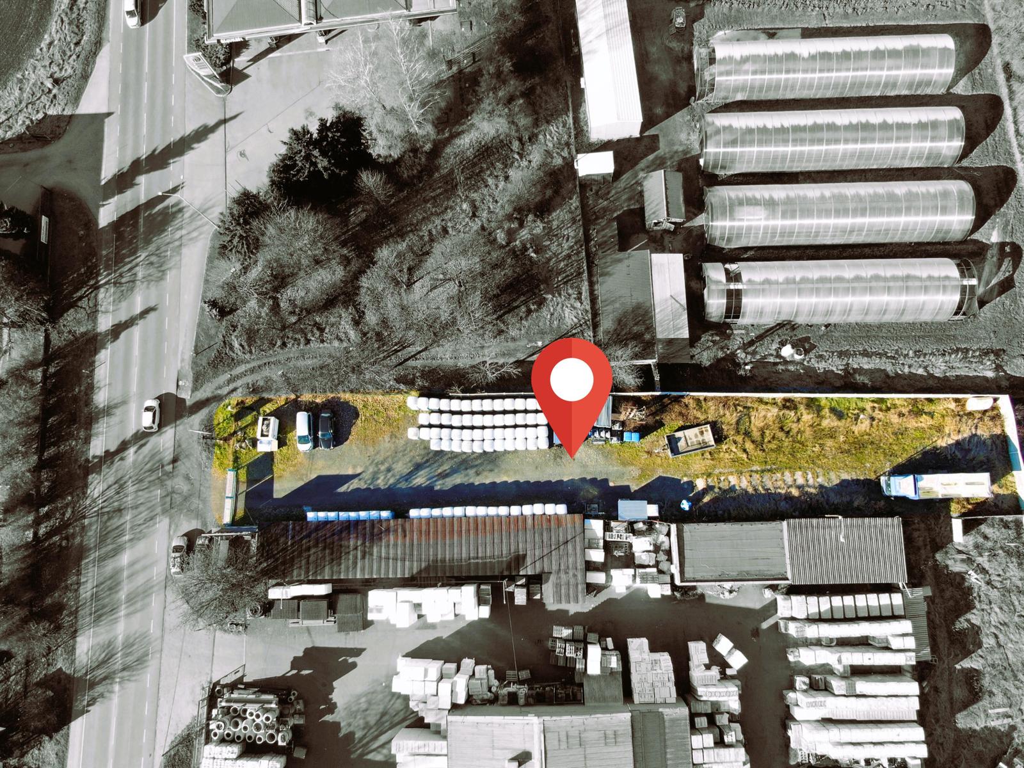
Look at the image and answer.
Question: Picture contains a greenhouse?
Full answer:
Yes, the frame does contain a greenhouse.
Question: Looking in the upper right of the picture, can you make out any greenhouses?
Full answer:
Yes, looking in the upper right of the picture, one can make out a greenhouse.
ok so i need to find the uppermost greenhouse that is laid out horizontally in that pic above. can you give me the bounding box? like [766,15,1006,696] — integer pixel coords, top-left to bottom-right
[695,36,963,101]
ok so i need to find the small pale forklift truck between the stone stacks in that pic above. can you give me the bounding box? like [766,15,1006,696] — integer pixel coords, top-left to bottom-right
[710,658,728,674]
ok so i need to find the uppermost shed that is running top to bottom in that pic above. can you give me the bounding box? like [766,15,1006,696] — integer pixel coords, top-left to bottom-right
[573,0,643,137]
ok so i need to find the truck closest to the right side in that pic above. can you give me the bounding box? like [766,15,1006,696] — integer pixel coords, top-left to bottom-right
[872,472,991,498]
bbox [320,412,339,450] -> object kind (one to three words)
car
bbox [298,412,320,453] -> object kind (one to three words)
vehicle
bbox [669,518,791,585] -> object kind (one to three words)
building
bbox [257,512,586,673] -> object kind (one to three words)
shed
